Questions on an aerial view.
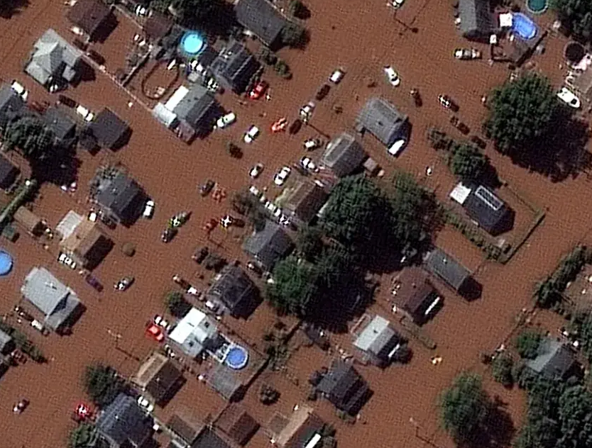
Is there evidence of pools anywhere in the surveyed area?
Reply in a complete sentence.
Yes, you can see a pool in this photo.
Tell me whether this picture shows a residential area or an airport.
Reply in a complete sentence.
This image shows a residential area.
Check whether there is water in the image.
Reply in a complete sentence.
Yes, there is water in the image.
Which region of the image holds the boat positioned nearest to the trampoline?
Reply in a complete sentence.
Look in the top right portion of the view to spot the boat positioned nearest to the trampoline.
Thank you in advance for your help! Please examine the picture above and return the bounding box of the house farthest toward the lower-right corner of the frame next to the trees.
[528,337,576,384]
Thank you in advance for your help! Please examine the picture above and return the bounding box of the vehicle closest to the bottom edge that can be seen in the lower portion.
[303,431,324,448]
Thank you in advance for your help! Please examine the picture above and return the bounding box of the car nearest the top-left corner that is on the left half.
[9,80,30,98]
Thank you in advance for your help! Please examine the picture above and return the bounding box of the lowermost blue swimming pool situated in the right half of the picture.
[511,14,538,38]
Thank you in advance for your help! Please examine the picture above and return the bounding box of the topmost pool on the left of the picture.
[180,31,205,54]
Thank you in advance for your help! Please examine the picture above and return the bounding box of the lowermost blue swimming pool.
[225,345,247,368]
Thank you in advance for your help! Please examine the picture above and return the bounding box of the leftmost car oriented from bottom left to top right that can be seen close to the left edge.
[12,397,31,417]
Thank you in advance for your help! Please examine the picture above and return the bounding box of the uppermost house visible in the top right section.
[459,0,489,35]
